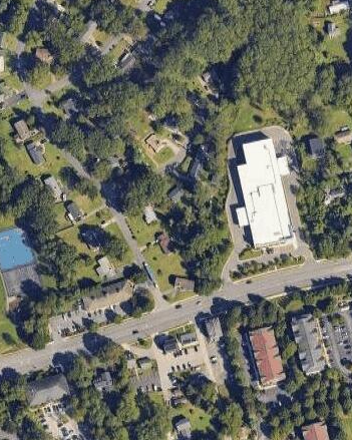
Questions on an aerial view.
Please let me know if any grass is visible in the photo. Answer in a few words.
Yes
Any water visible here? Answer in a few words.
No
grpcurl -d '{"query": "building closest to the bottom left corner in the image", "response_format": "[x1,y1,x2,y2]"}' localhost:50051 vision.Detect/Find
[25,374,69,407]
